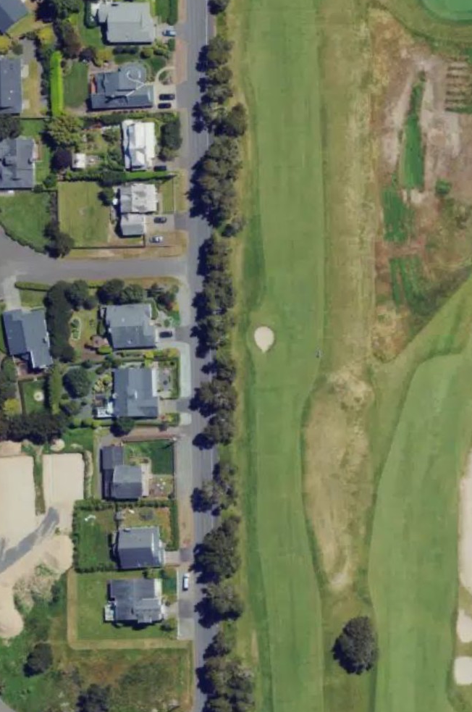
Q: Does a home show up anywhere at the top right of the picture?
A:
No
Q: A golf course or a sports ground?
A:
golf course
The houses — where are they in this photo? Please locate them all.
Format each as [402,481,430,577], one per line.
[118,182,158,237]
[0,57,22,112]
[113,368,160,419]
[115,527,164,568]
[91,60,154,109]
[1,309,55,366]
[104,304,157,348]
[0,137,34,189]
[0,0,29,35]
[121,120,155,170]
[97,2,155,44]
[101,446,144,499]
[110,580,163,624]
